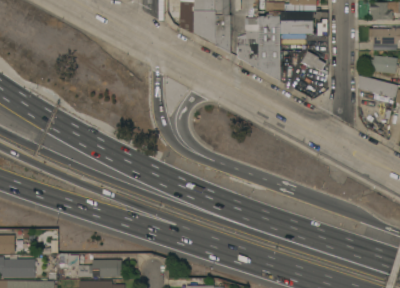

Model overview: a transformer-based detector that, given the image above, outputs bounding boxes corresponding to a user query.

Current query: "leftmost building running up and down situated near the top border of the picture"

[181,2,194,32]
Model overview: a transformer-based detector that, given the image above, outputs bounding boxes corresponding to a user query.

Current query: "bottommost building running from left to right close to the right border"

[358,75,400,100]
